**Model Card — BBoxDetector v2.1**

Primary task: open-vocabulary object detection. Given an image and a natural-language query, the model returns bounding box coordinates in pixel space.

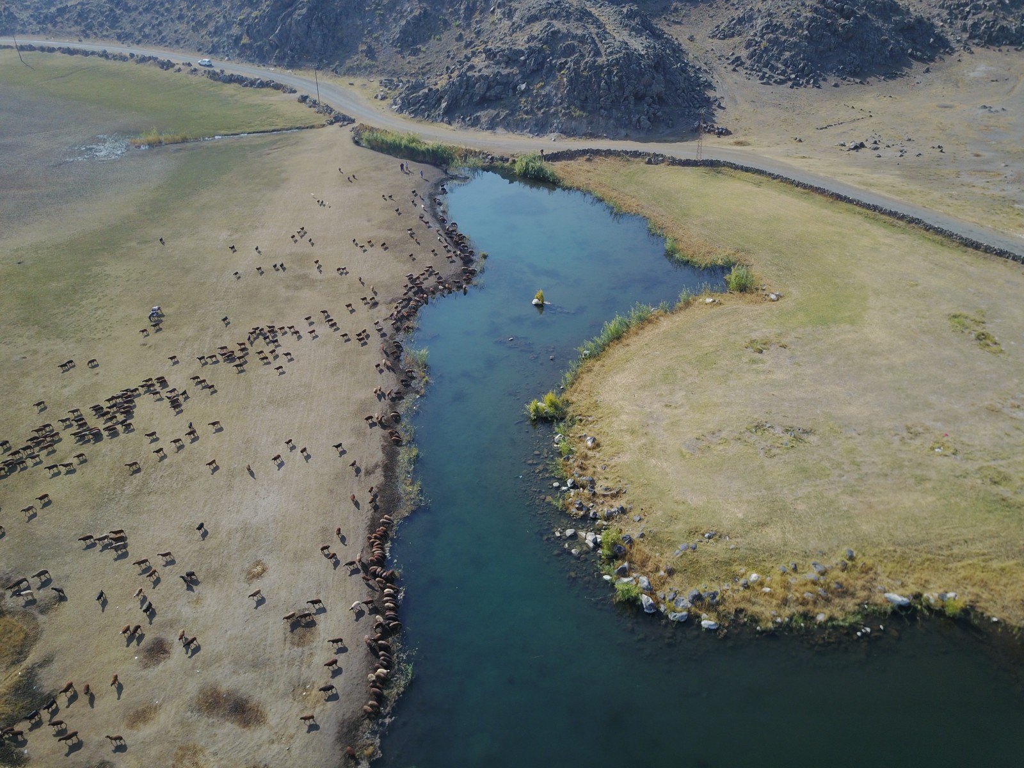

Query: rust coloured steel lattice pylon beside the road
[695,104,712,159]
